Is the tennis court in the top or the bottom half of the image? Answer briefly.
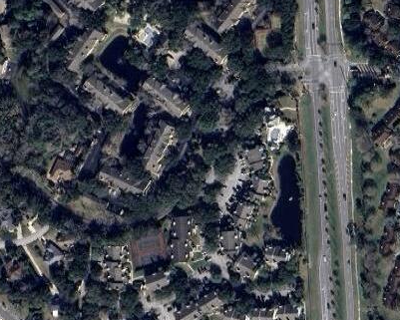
bottom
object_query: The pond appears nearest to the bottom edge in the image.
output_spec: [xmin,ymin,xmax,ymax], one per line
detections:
[272,152,302,248]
